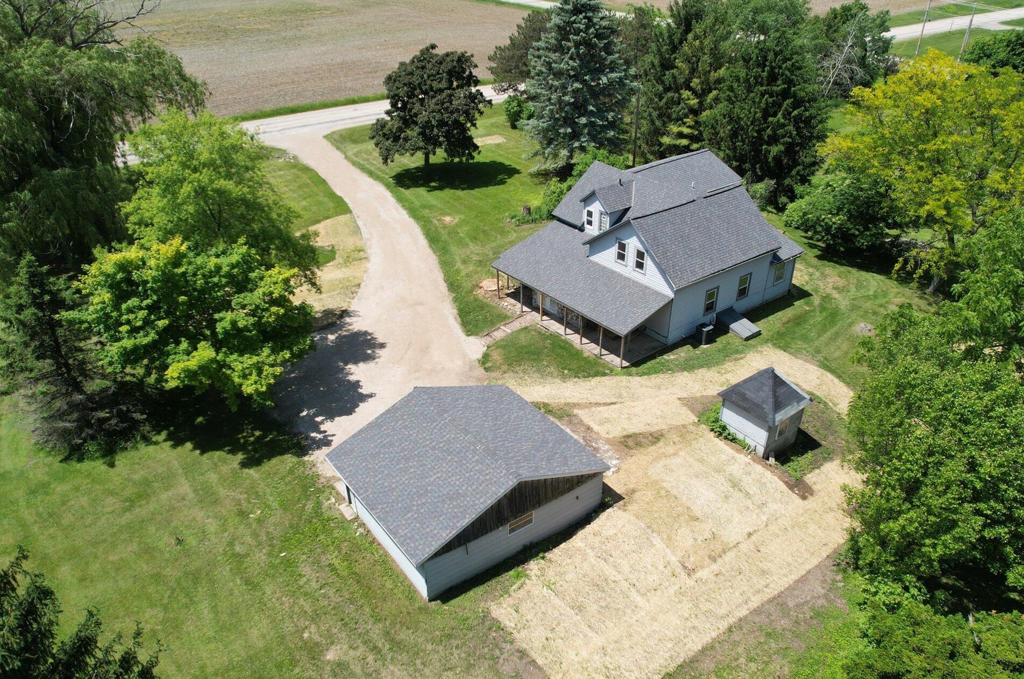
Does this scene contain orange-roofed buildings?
No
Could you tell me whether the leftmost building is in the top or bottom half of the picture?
bottom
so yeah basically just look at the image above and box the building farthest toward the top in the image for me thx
[492,147,805,371]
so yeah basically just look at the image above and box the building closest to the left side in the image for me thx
[325,385,612,601]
